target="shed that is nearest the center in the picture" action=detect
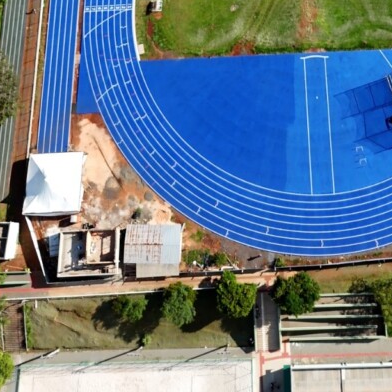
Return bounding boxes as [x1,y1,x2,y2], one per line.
[124,224,182,277]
